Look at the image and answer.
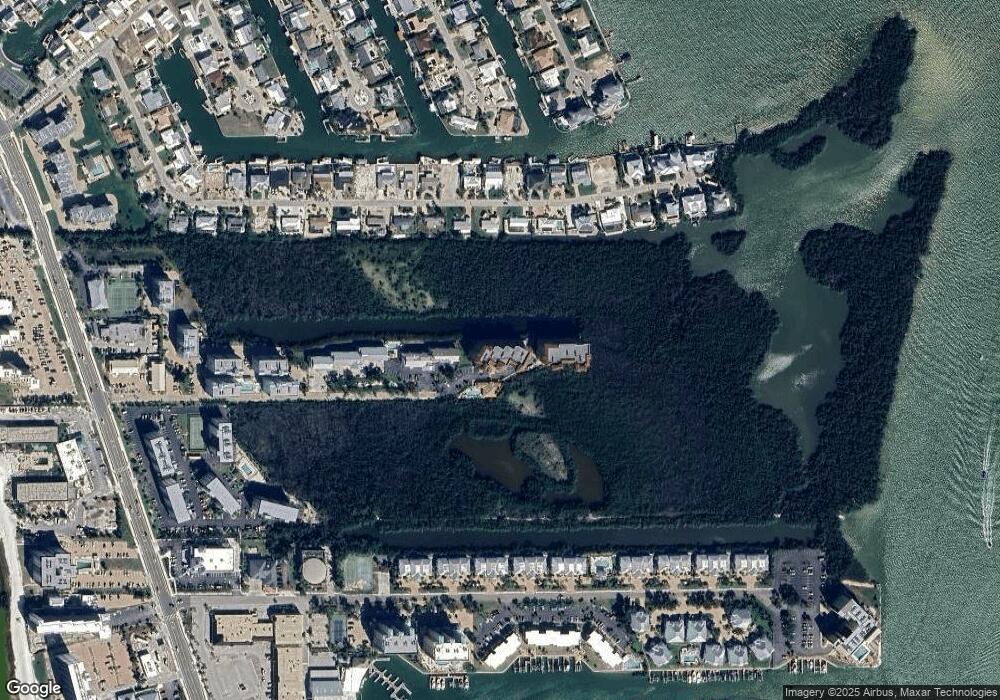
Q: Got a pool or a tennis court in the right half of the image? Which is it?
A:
pool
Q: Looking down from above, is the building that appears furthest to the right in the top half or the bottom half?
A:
bottom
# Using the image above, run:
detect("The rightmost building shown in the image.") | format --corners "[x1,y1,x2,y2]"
[829,587,879,653]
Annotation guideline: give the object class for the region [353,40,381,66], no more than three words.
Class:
house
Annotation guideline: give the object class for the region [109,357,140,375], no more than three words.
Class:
building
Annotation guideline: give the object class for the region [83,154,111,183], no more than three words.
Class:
swimming pool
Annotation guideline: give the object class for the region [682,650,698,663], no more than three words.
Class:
swimming pool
